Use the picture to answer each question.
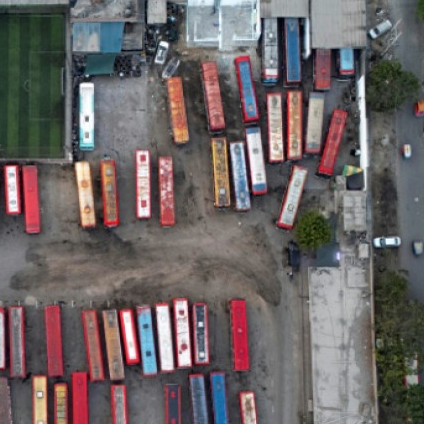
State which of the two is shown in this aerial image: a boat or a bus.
bus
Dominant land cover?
paved ground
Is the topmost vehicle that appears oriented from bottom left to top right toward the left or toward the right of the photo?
right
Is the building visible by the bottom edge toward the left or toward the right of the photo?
right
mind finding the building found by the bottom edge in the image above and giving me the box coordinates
[303,267,377,424]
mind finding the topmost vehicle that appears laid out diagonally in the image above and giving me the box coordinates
[366,19,392,41]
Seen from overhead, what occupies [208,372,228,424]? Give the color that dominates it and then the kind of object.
blue bus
